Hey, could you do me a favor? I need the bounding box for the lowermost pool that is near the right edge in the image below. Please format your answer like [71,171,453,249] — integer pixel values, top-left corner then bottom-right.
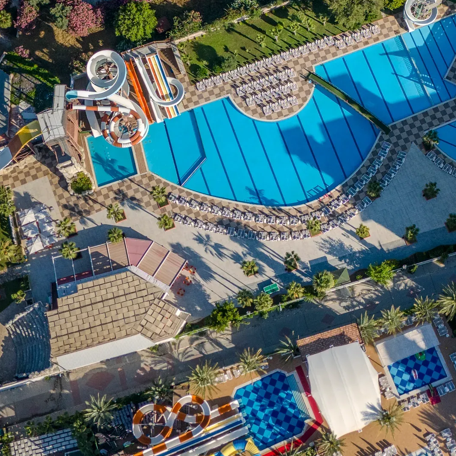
[382,344,451,398]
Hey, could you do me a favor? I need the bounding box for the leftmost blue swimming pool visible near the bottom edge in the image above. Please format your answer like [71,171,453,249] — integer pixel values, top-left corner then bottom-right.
[231,368,313,452]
